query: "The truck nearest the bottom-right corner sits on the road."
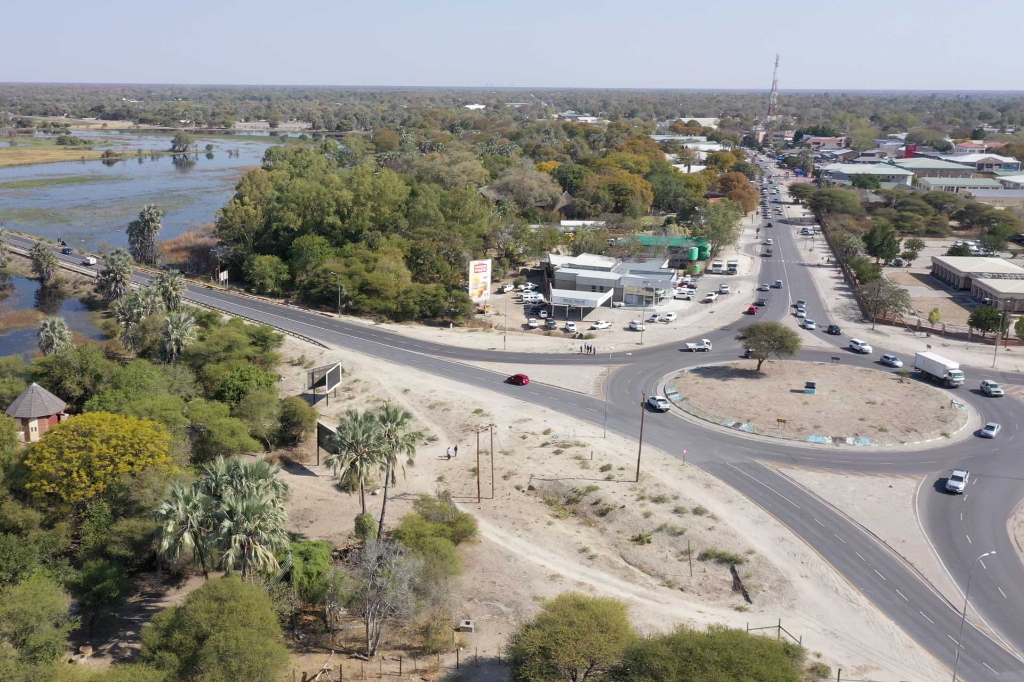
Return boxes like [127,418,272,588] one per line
[946,468,970,494]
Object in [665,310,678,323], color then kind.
white vehicle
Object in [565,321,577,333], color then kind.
white vehicle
